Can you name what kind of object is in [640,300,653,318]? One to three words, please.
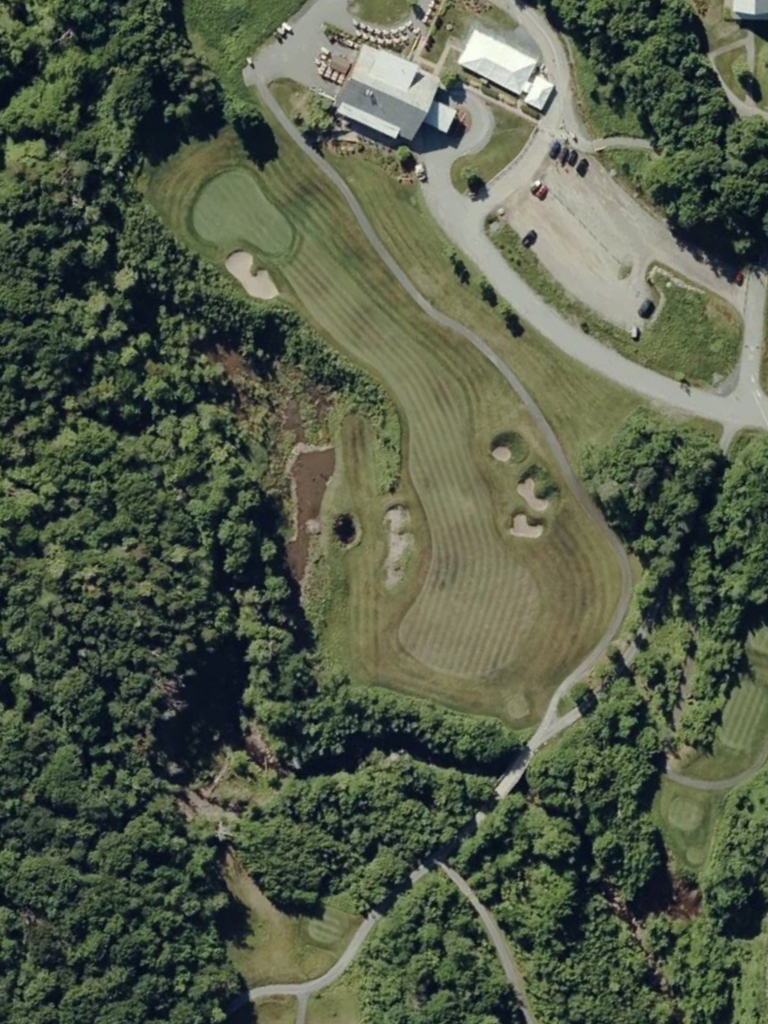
vehicle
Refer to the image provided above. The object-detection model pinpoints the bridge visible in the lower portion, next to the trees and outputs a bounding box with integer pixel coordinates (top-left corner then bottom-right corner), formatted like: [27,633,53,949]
[494,747,534,801]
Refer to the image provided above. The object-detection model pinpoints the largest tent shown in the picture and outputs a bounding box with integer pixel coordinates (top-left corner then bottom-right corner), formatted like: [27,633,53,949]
[458,30,537,94]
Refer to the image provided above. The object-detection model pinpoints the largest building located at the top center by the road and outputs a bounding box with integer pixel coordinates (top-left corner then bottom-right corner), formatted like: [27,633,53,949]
[336,45,457,141]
